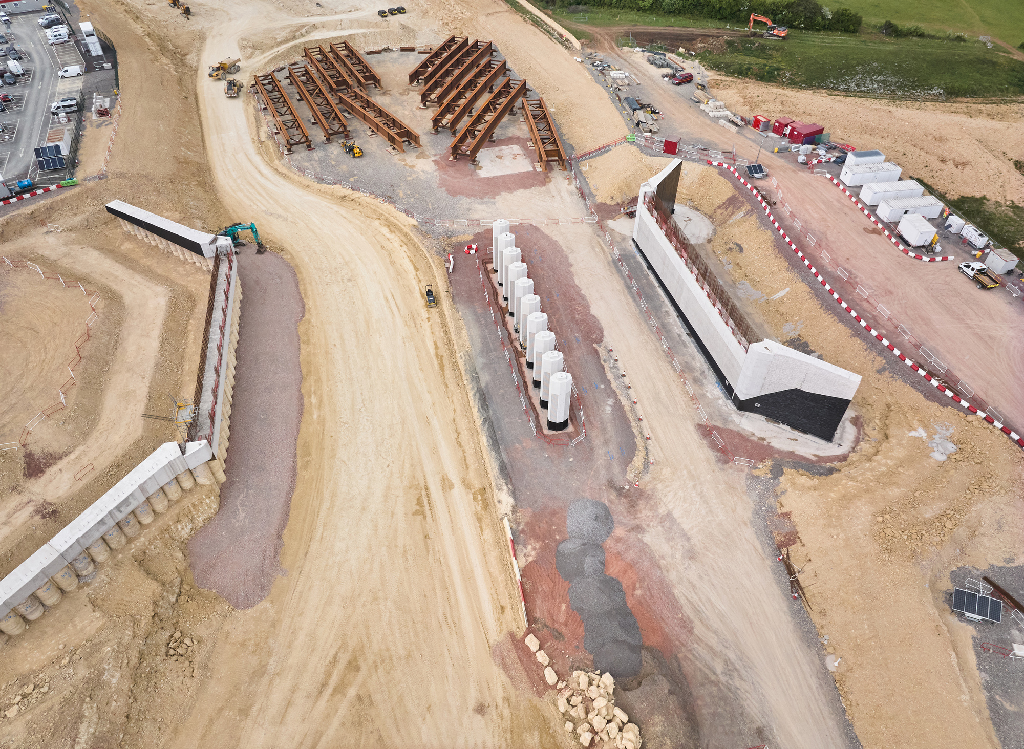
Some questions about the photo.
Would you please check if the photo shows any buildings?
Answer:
Yes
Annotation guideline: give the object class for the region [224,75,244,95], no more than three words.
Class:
work vehicle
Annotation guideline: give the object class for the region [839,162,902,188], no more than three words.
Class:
building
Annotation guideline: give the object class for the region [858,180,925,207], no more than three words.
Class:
building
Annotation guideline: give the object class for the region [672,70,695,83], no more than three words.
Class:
vehicle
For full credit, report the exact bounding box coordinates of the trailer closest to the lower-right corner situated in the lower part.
[945,574,1002,628]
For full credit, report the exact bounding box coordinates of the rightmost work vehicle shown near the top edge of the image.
[748,11,790,42]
